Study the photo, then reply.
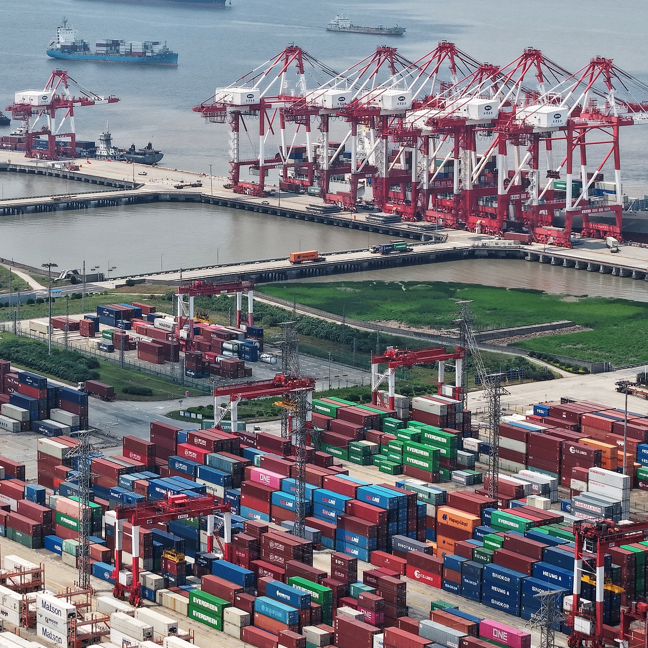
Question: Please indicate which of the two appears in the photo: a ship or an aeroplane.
ship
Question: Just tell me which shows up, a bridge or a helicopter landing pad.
bridge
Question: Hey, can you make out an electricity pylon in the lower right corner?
Yes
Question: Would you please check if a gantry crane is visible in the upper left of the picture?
Yes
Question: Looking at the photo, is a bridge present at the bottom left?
No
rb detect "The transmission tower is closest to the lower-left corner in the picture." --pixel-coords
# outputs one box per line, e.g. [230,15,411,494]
[59,422,108,590]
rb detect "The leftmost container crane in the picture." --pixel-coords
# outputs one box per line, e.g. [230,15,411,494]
[7,72,114,158]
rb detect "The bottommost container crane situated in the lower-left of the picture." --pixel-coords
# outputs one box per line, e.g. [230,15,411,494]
[106,491,241,610]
